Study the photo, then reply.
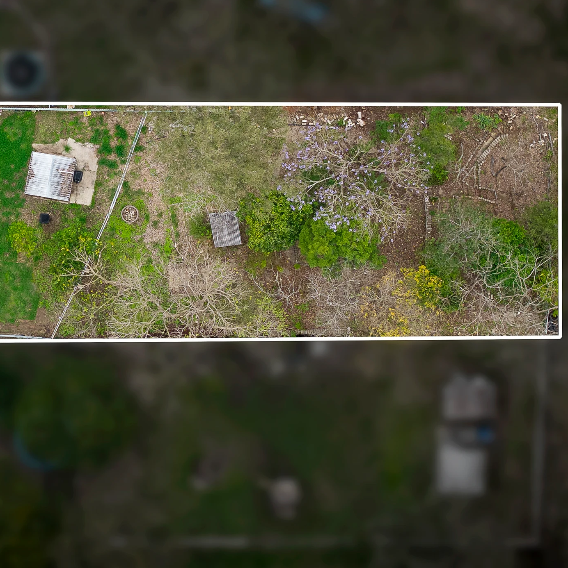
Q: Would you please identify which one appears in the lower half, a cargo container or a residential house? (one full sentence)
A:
The one visible in the lower half is a residential house.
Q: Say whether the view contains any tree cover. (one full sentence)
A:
Yes, there is tree cover in the image.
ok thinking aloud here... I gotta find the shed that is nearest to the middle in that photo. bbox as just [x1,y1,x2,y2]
[206,211,241,247]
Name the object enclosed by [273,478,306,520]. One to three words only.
house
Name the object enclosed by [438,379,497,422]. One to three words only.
shed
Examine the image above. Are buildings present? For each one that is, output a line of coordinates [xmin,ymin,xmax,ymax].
[430,443,485,496]
[206,211,241,247]
[25,151,76,201]
[438,379,497,422]
[273,478,306,520]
